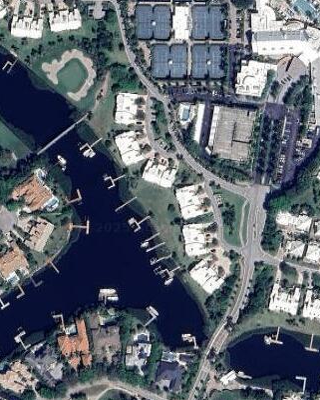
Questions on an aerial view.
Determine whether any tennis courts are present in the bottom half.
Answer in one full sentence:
No, no tennis court appears in the bottom half.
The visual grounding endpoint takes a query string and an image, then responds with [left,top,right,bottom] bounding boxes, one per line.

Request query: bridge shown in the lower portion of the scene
[201,321,232,365]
